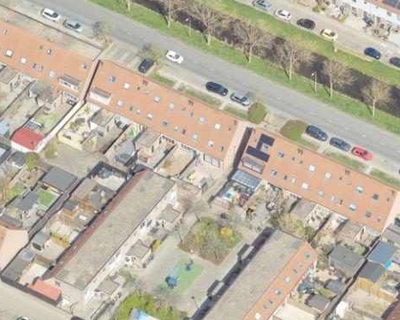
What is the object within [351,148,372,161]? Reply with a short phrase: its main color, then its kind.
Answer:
red vehicle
